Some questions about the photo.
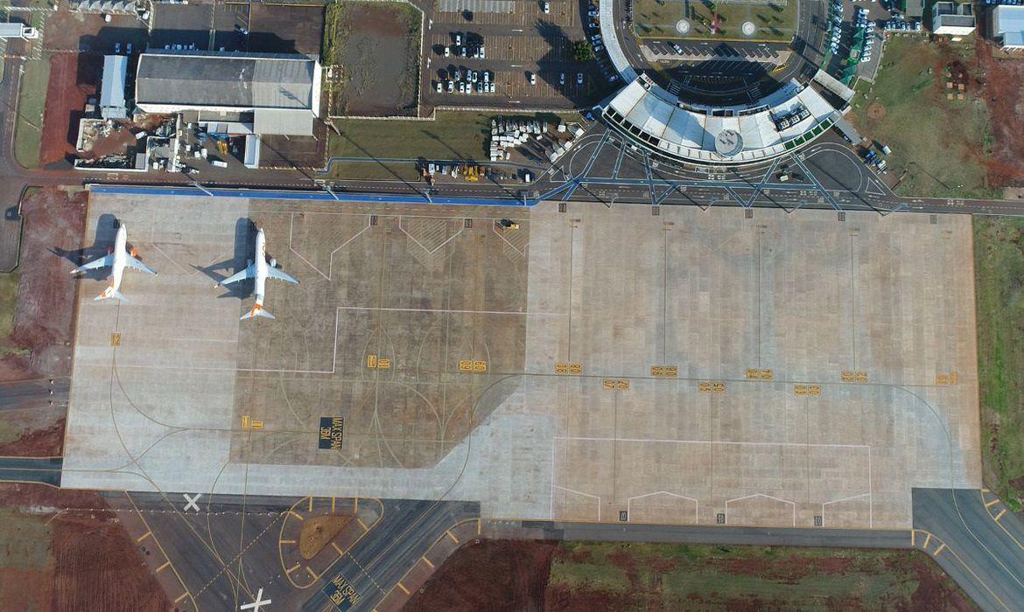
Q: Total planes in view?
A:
2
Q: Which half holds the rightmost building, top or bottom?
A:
top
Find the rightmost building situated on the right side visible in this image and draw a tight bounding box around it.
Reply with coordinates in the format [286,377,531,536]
[994,6,1024,50]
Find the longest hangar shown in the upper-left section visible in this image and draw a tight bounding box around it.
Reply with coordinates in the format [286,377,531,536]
[135,54,321,117]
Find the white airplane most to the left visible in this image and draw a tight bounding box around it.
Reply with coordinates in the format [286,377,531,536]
[73,224,156,297]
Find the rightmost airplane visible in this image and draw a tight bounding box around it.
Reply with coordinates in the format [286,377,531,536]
[216,228,299,314]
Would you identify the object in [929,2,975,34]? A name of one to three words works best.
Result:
building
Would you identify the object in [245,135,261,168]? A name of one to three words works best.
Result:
building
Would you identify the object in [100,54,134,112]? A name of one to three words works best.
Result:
shed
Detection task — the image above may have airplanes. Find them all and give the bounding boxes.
[73,224,156,297]
[216,228,299,314]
